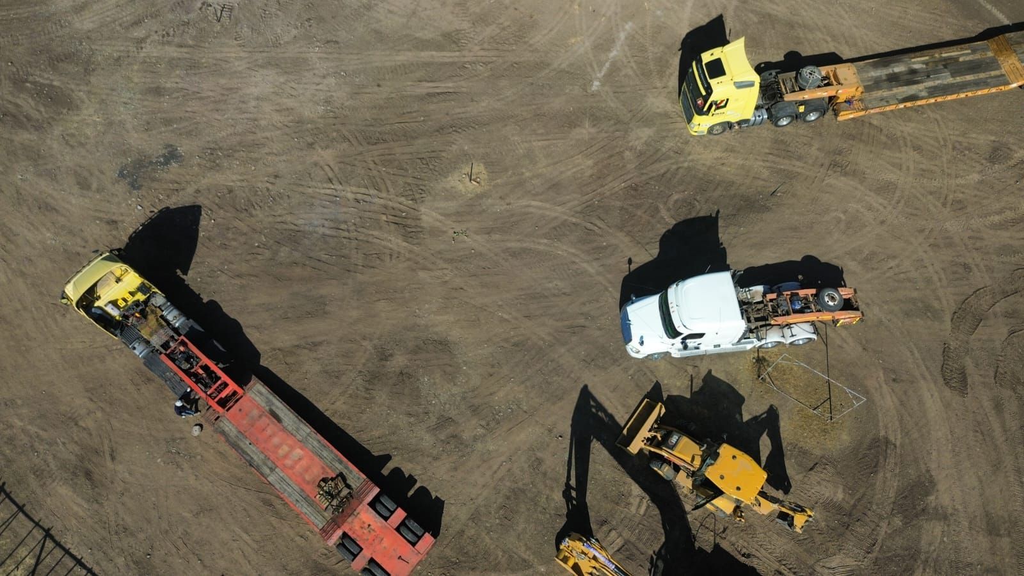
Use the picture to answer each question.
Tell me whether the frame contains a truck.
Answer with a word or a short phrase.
Yes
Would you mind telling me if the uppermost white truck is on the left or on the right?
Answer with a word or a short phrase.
right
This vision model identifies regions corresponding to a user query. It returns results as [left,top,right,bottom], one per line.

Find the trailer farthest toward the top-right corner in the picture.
[771,36,1024,114]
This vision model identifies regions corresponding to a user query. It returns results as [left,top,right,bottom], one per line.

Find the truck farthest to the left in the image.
[61,246,237,403]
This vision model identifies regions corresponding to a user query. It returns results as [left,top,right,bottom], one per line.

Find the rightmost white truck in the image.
[620,262,844,358]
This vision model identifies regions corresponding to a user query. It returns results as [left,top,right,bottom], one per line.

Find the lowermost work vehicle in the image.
[559,522,631,576]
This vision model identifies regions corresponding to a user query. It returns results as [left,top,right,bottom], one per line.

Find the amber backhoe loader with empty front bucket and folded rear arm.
[614,397,816,536]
